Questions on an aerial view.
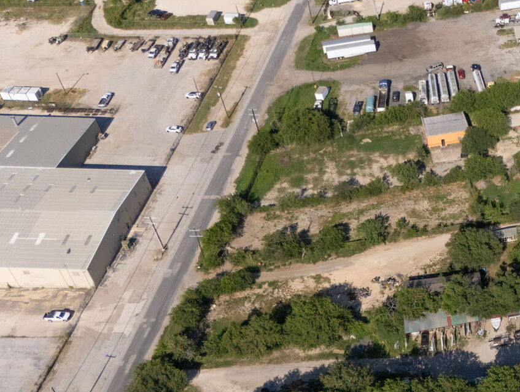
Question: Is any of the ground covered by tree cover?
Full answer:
Yes, some tree cover is visible.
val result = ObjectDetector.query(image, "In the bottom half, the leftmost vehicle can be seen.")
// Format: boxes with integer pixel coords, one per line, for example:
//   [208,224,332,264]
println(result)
[40,311,75,324]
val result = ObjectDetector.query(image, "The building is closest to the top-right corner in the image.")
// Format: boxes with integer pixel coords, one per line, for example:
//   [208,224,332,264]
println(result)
[421,110,468,146]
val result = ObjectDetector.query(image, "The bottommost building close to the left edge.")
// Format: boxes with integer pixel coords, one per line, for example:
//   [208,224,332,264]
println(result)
[0,166,151,287]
